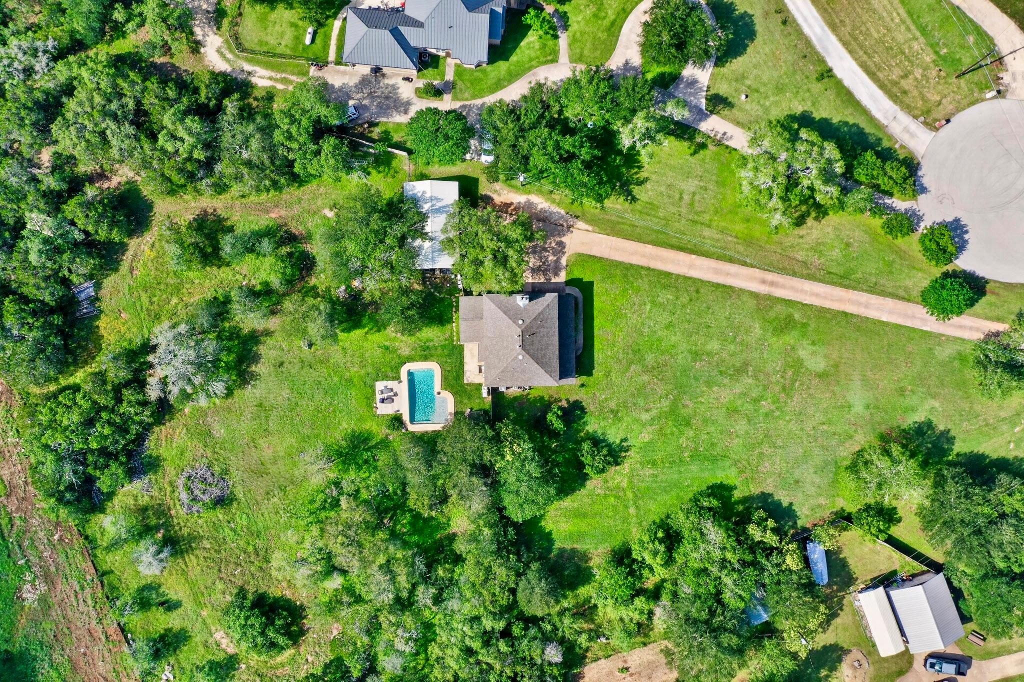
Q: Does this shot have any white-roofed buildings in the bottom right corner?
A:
Yes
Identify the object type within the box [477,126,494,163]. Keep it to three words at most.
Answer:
car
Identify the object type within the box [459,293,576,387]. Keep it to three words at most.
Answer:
house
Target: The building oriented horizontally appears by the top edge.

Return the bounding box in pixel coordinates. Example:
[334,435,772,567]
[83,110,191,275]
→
[342,0,506,74]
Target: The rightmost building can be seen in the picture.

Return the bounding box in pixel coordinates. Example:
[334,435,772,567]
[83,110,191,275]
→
[880,569,965,654]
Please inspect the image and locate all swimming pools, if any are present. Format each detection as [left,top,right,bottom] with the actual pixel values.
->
[400,362,454,431]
